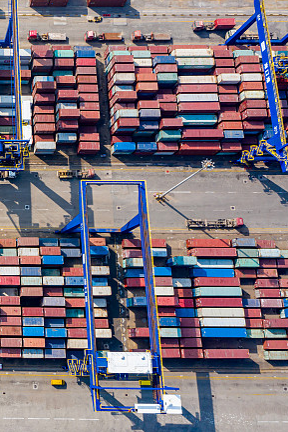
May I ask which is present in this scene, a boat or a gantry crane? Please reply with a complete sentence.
There is a gantry crane in the scene.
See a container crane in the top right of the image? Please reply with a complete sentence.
Yes, in the top right of the image there is a container crane.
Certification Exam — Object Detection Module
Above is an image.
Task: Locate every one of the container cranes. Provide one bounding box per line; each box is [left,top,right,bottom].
[0,0,37,172]
[218,0,288,174]
[55,176,187,416]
